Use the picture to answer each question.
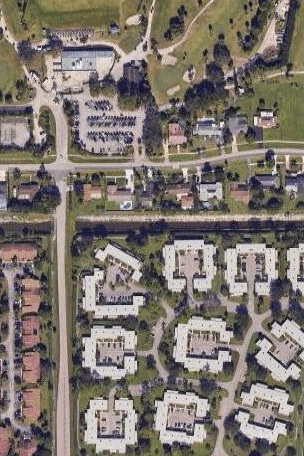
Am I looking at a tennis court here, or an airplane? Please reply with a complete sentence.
Visible in the photo is a tennis court.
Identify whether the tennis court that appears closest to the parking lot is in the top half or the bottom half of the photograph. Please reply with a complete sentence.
The tennis court that appears closest to the parking lot sits in the top half of the picture.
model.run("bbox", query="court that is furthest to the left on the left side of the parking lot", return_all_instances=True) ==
[1,118,30,145]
